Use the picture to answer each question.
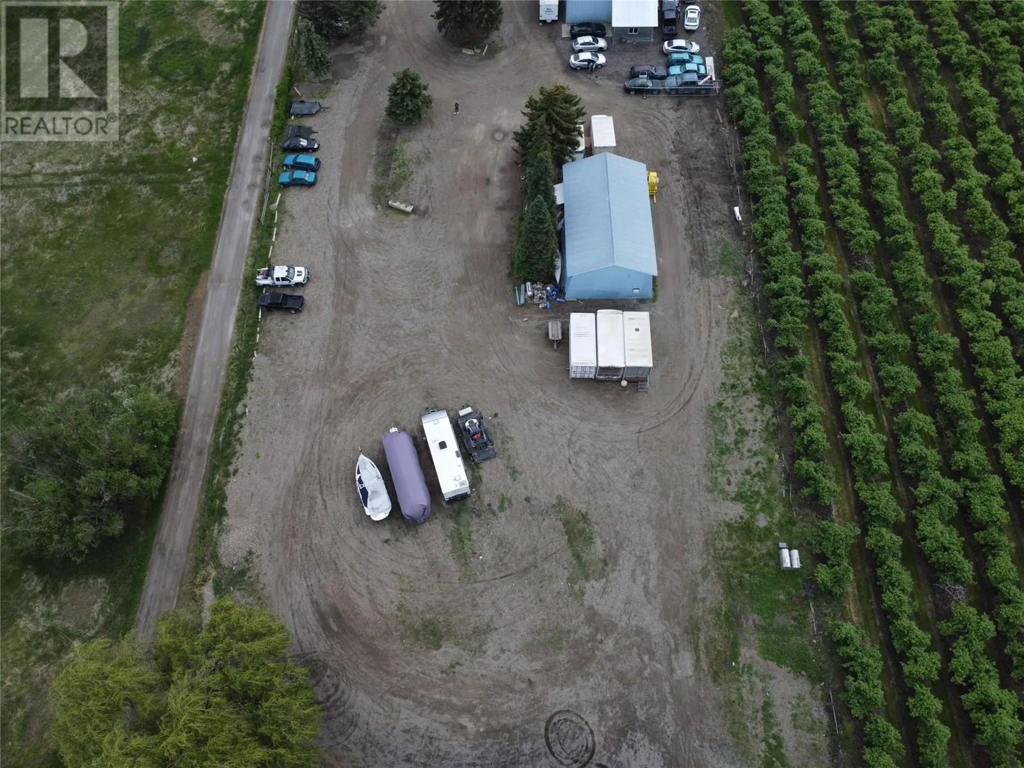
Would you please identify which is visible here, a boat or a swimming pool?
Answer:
boat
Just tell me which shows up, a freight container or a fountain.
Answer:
freight container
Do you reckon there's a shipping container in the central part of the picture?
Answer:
Yes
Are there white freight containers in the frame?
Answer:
Yes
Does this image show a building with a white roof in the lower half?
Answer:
No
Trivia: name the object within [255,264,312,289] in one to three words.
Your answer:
truck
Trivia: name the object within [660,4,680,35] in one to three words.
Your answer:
vehicle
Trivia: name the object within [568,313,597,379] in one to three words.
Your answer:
shipping container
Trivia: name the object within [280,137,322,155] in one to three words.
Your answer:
car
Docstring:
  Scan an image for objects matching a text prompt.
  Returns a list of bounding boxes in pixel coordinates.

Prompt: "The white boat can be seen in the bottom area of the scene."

[355,445,391,525]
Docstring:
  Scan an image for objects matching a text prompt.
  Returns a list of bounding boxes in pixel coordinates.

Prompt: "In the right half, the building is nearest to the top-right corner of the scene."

[610,0,658,46]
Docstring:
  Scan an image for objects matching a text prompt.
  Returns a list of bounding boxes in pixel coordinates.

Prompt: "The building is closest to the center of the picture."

[554,153,658,302]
